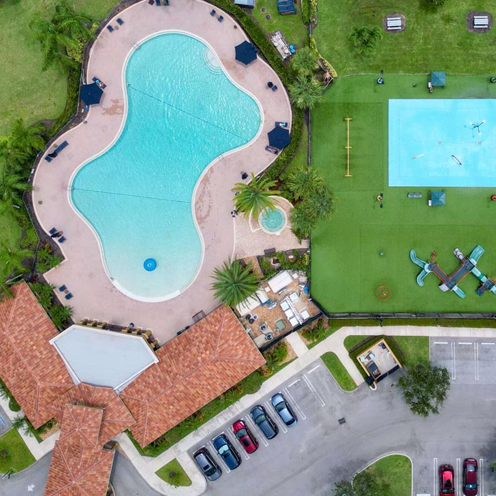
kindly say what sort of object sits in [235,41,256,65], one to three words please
umbrella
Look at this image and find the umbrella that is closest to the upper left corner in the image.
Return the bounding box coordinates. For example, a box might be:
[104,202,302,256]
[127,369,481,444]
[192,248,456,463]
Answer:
[80,83,104,106]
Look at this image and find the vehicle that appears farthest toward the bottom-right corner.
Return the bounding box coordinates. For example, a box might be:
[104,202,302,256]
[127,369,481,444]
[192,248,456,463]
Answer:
[463,459,479,495]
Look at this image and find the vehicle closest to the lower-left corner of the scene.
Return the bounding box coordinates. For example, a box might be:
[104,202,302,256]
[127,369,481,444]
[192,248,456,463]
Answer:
[192,445,222,483]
